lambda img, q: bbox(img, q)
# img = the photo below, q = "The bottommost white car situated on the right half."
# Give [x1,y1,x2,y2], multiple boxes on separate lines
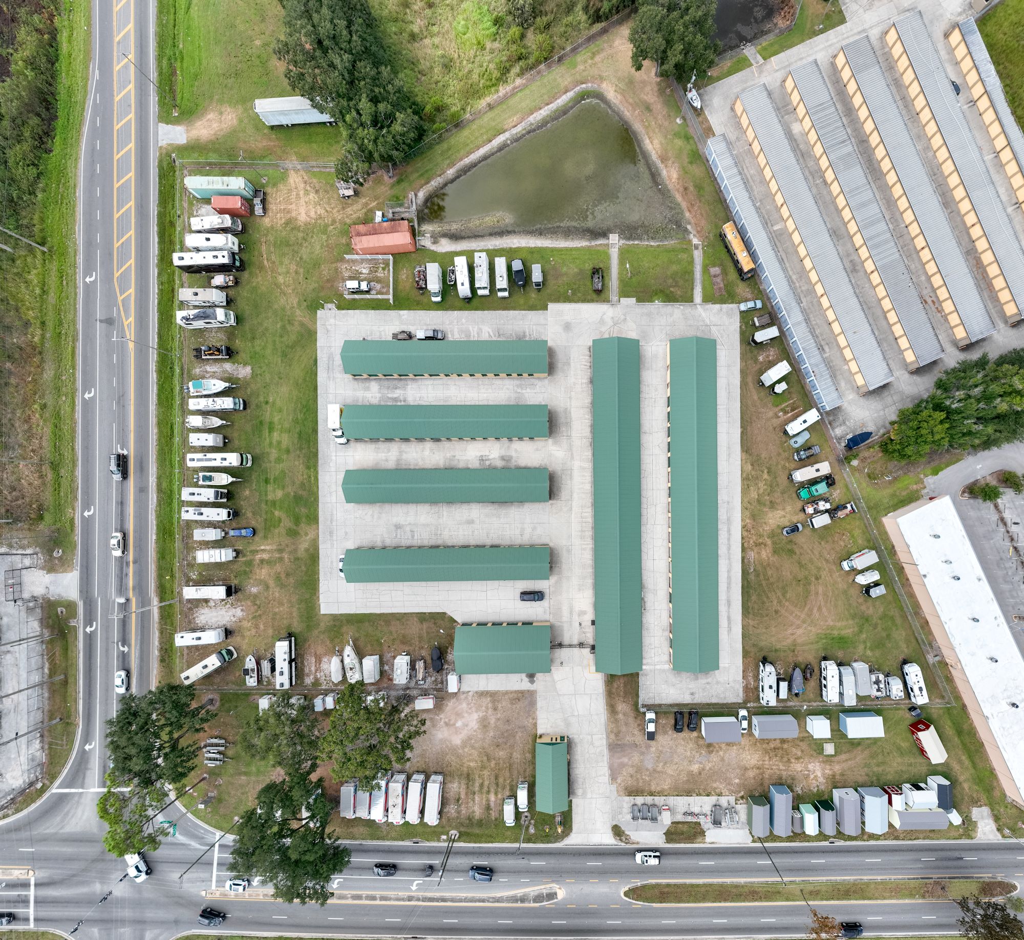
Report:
[635,850,660,866]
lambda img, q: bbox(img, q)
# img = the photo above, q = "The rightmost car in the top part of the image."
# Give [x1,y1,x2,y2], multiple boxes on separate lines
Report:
[950,78,964,98]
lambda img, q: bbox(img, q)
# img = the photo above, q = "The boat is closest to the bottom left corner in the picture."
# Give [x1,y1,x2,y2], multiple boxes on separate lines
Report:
[244,657,259,690]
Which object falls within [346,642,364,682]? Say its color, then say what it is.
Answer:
white boat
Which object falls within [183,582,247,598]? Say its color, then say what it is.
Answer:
white trailer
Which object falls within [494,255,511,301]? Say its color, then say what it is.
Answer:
white camper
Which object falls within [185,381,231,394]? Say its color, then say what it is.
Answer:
white boat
